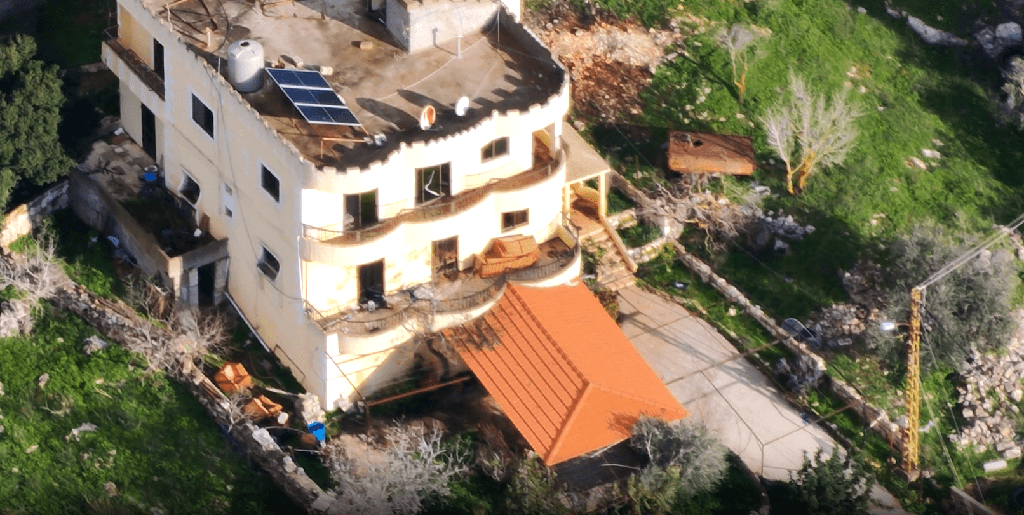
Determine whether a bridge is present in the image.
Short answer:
No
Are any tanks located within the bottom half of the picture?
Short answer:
No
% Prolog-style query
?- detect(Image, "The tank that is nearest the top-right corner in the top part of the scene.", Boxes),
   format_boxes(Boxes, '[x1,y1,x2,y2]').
[668,134,753,177]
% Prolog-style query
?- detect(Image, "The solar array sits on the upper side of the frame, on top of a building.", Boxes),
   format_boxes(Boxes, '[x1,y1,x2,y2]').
[264,67,369,154]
